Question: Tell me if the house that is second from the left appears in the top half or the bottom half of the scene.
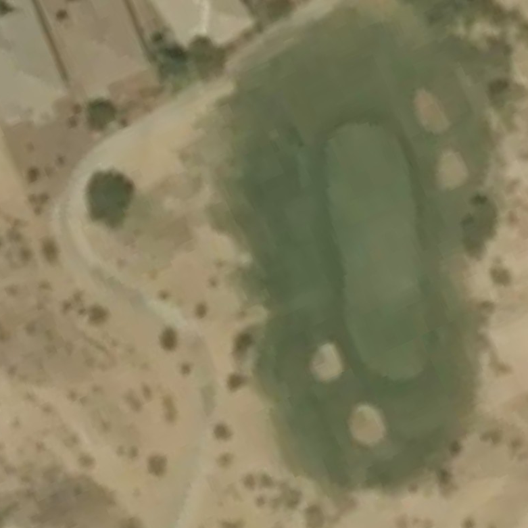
top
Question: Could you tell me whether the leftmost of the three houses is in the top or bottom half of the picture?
top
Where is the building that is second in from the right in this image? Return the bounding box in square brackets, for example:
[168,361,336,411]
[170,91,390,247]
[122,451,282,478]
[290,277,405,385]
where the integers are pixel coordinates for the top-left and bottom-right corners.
[43,0,147,93]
